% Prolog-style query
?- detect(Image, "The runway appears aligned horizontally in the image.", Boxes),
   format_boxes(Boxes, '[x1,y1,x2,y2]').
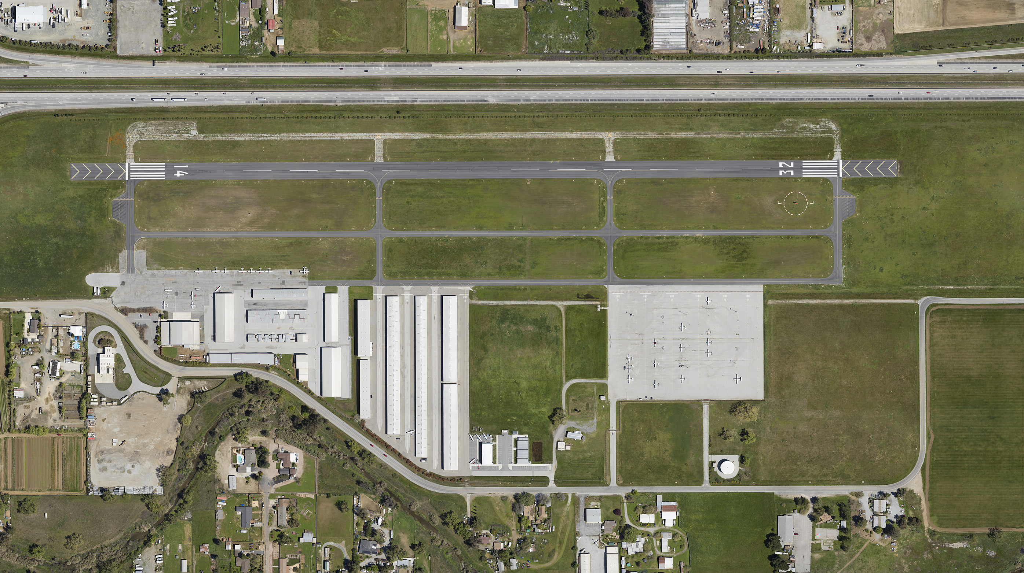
[70,159,897,180]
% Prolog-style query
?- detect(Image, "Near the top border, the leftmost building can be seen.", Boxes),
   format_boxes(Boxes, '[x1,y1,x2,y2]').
[15,5,46,22]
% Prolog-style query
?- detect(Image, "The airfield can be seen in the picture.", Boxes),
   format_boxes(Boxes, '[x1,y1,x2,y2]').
[70,118,897,476]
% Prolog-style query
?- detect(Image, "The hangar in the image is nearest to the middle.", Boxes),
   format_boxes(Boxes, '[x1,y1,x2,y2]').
[443,296,457,382]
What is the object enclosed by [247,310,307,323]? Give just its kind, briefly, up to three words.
hangar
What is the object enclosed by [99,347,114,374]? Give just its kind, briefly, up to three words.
building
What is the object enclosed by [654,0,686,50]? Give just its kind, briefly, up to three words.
greenhouse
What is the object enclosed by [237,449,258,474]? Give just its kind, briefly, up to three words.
house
